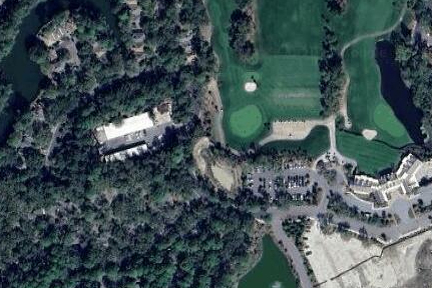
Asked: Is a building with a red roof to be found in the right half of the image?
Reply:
No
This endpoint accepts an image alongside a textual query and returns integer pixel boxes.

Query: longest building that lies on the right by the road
[349,151,425,203]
